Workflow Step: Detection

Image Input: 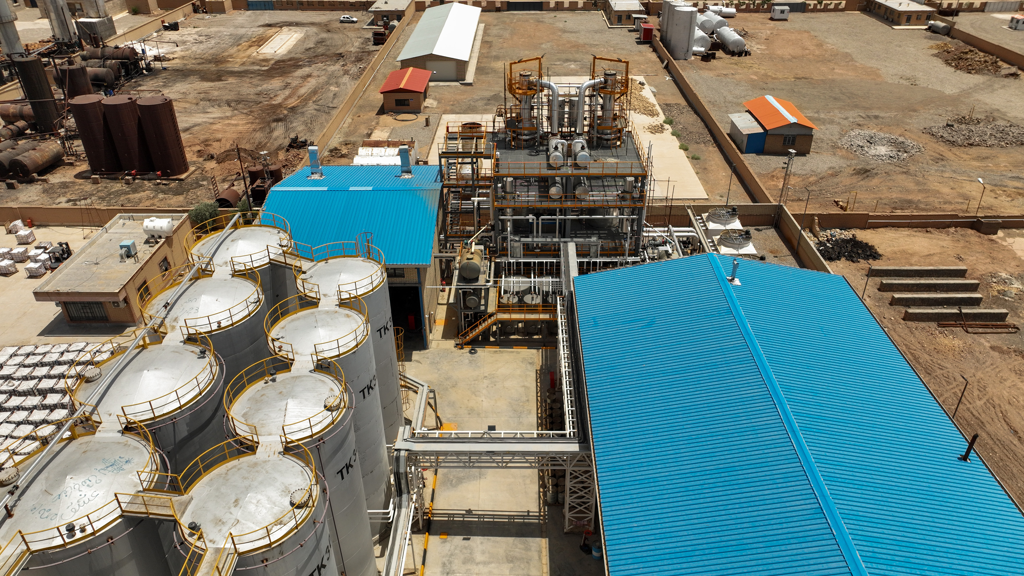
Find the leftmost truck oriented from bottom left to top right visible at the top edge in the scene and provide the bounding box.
[372,18,397,43]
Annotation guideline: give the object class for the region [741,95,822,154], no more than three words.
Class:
shed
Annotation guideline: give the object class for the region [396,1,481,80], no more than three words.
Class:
shed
